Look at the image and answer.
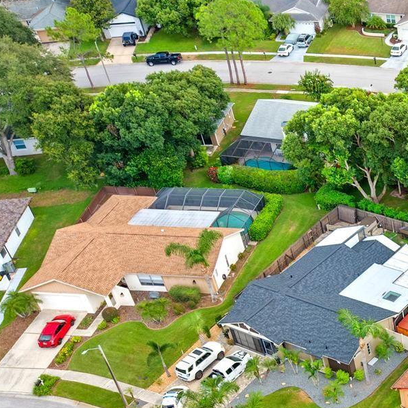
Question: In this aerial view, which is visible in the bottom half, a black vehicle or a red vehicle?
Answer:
red vehicle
